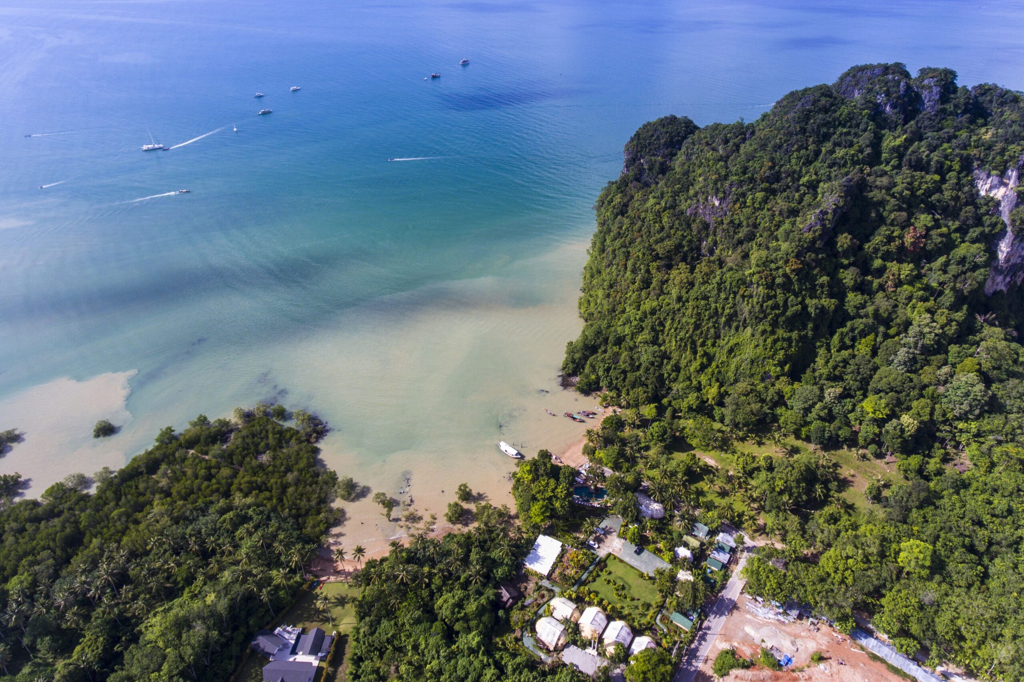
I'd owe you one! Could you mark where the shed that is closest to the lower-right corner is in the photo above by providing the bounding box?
[853,631,943,682]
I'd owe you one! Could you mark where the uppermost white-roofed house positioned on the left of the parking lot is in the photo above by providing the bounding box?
[524,537,562,580]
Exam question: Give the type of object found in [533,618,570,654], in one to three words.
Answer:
house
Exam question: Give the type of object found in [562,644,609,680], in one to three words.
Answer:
house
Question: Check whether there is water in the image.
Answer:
Yes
